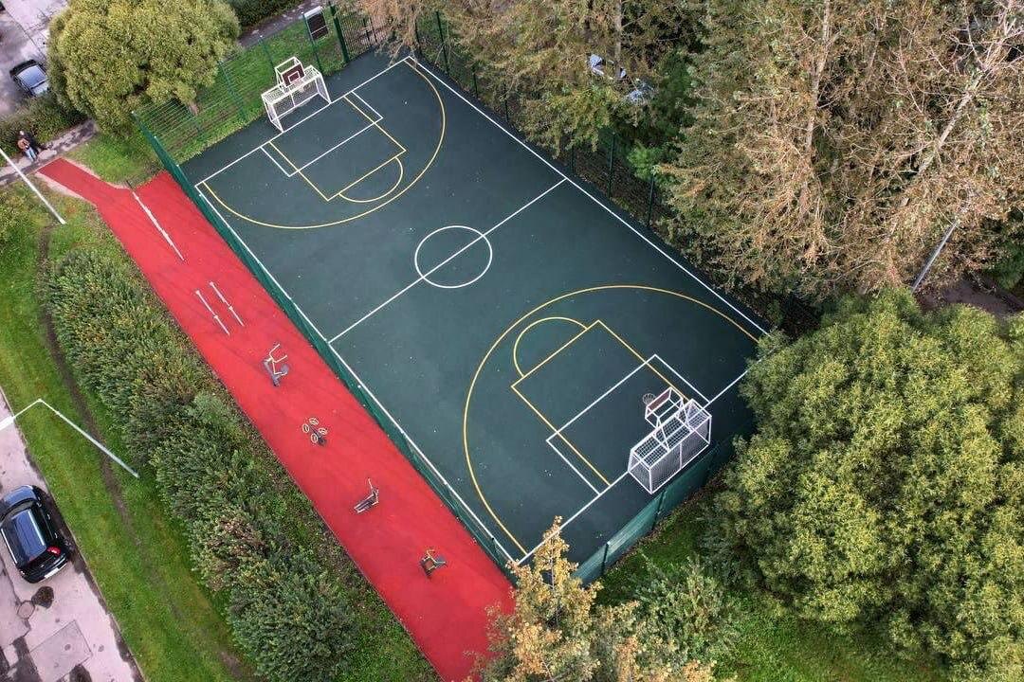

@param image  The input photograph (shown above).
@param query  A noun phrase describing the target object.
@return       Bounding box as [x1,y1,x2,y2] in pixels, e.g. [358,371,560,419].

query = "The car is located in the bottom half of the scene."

[0,488,70,587]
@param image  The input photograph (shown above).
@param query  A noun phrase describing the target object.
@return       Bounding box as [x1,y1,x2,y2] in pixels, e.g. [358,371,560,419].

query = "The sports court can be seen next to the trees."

[168,35,794,624]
